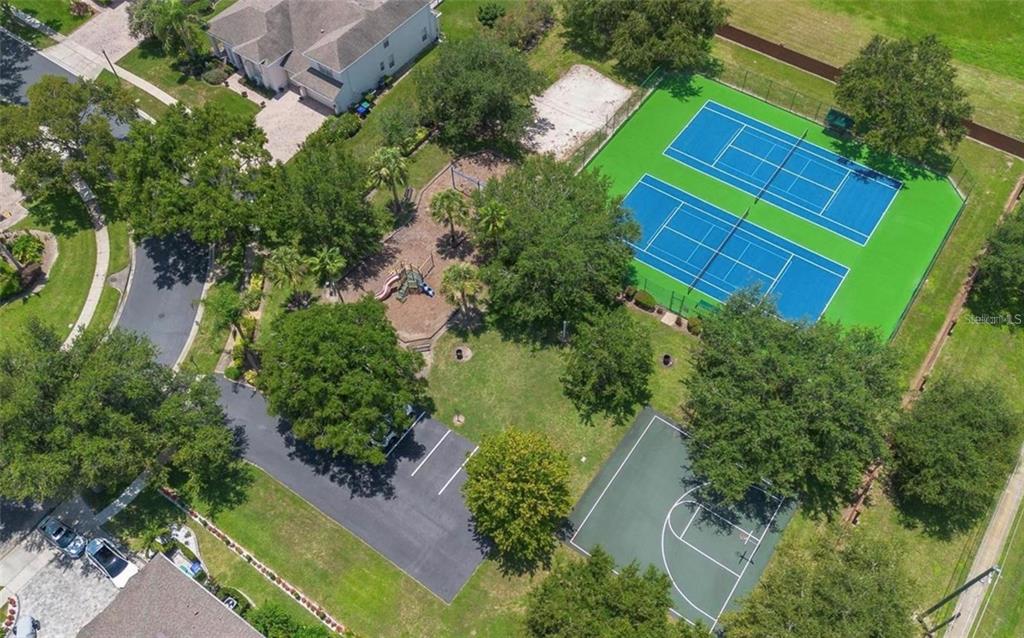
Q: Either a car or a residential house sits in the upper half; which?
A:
residential house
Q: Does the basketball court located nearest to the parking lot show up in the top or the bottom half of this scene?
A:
bottom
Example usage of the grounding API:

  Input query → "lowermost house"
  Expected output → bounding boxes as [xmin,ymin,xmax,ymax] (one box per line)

[69,556,265,638]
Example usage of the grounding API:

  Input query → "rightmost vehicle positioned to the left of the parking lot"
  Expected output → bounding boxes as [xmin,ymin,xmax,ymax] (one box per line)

[79,539,134,590]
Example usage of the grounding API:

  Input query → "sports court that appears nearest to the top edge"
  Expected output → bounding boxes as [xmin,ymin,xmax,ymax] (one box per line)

[508,60,636,169]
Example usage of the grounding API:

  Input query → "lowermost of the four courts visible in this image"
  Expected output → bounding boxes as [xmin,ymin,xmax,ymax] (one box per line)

[556,407,802,638]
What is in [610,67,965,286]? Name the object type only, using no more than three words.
tennis court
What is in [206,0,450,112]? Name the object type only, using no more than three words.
house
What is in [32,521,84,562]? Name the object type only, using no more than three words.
car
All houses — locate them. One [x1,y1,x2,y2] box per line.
[69,556,265,638]
[206,0,450,112]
